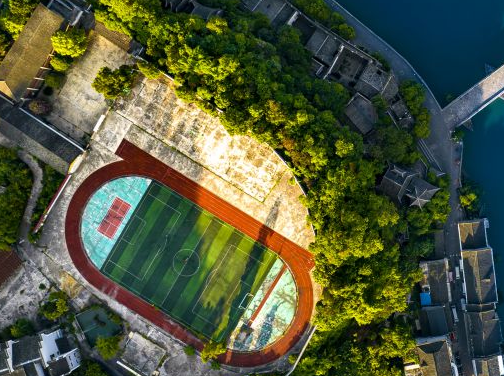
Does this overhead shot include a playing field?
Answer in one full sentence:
Yes, a playing field is visible in the scene.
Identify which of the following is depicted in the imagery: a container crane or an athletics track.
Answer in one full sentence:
Visible in the photo is an athletics track.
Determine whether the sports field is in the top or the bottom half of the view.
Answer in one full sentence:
The sports field sits in the bottom half of the picture.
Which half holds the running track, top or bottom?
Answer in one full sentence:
The running track is in the bottom half of the image.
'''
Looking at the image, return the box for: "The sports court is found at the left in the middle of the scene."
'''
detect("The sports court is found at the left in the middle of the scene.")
[98,196,131,239]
